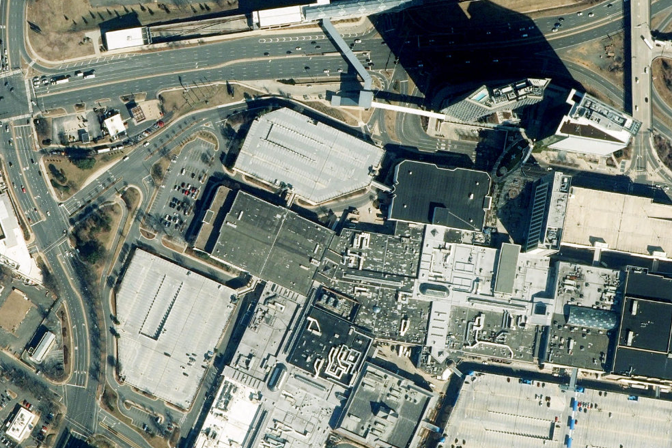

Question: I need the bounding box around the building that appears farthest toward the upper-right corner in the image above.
[535,89,642,155]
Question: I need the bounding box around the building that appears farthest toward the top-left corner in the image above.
[103,28,144,51]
